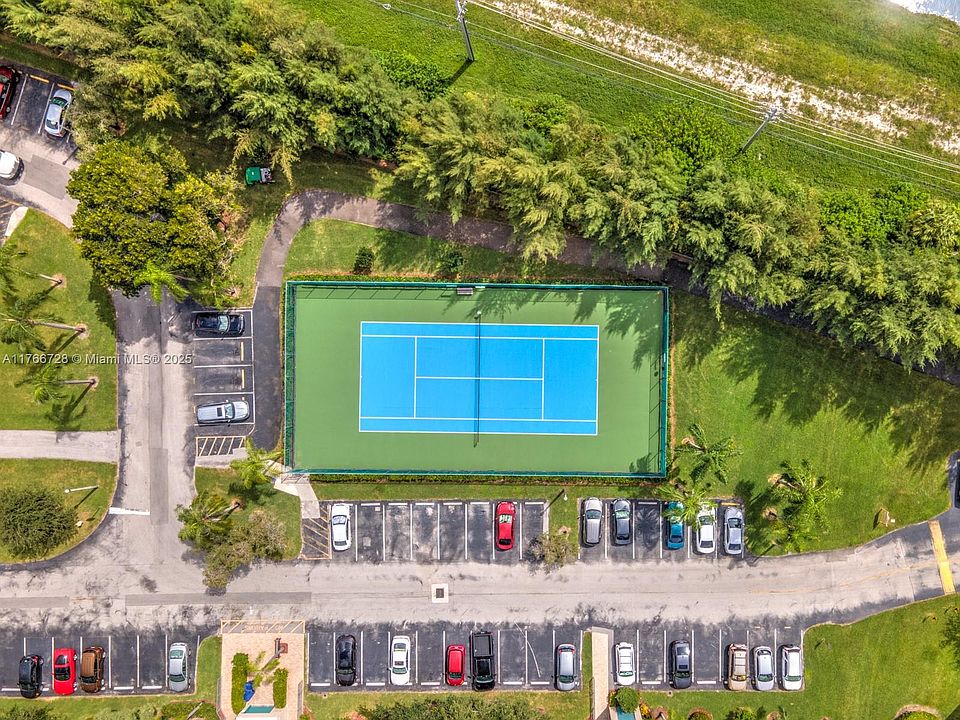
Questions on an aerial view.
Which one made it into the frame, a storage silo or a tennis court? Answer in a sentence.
It is a tennis court that can be seen here.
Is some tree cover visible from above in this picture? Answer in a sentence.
Yes, tree cover shows up in the scene.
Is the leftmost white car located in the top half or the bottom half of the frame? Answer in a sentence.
The top half of the photo is where the leftmost white car is.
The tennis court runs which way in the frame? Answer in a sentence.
The tennis court is oriented from left to right.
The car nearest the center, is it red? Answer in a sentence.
Yes, the car nearest the center appears red.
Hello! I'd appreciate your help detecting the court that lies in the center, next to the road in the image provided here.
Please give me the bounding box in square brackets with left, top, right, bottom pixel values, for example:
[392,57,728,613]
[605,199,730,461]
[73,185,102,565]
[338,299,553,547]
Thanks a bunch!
[292,286,664,474]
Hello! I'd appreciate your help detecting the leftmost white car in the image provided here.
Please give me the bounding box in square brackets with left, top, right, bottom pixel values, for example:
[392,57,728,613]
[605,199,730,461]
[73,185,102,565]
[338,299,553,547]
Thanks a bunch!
[0,151,22,176]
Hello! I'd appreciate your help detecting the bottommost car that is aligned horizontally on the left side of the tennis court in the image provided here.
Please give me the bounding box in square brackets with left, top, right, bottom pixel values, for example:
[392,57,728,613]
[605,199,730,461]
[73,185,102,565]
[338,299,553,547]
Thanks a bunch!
[195,400,249,424]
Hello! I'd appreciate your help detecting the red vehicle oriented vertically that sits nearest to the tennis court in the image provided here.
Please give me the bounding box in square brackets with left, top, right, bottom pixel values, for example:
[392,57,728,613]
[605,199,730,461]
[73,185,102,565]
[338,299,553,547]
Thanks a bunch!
[493,501,516,550]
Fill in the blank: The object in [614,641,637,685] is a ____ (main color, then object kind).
white car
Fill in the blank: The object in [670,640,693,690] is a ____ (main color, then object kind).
gray car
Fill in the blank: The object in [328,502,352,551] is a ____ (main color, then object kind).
white car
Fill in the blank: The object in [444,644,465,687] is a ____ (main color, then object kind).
red car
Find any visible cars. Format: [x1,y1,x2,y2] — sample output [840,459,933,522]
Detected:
[194,313,246,336]
[581,496,604,547]
[165,642,190,693]
[77,645,105,694]
[388,636,411,686]
[611,498,633,546]
[723,506,746,557]
[614,641,637,685]
[670,640,693,690]
[444,644,465,687]
[0,71,18,120]
[493,501,516,550]
[726,643,750,691]
[42,87,76,139]
[0,151,22,176]
[556,643,578,691]
[779,643,804,692]
[51,648,78,696]
[752,645,776,691]
[695,505,718,554]
[328,502,352,551]
[665,501,683,550]
[195,400,249,424]
[333,634,357,686]
[15,653,43,699]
